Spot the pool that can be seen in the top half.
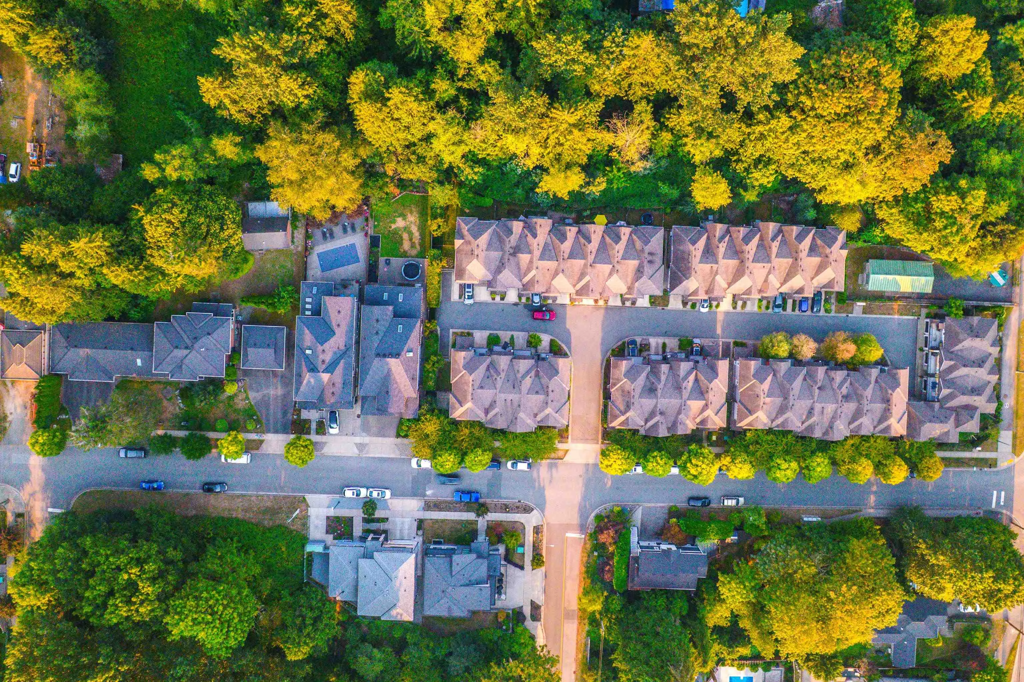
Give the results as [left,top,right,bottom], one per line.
[314,240,362,275]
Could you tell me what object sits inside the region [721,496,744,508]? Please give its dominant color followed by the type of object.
white vehicle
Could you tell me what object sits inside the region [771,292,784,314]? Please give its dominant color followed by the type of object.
blue vehicle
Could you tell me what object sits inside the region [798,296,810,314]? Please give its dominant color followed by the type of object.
blue vehicle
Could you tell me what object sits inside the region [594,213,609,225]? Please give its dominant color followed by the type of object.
yellow umbrella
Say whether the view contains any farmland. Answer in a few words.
No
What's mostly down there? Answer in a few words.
trees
